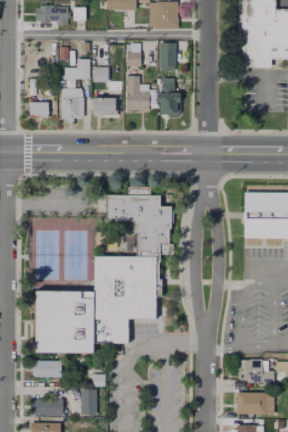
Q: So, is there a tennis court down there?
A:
Yes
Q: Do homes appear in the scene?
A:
Yes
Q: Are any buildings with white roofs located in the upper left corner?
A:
Yes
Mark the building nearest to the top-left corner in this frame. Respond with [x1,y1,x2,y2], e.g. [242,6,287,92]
[36,6,70,26]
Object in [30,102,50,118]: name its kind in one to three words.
house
